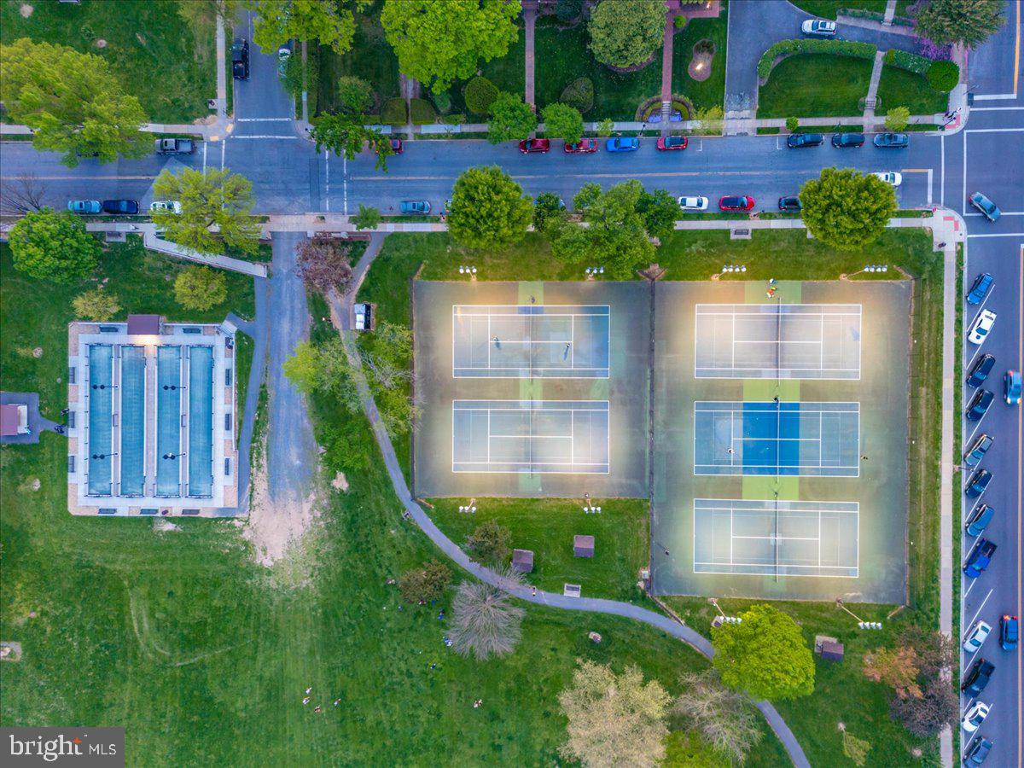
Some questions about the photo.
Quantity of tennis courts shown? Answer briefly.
5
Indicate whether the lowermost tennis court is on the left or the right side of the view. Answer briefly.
right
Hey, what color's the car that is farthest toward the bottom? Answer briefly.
blue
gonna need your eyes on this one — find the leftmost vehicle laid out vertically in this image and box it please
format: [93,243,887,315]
[231,37,248,79]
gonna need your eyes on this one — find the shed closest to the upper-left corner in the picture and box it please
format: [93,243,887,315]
[127,315,174,335]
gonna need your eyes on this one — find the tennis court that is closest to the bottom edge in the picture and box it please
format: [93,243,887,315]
[656,488,908,605]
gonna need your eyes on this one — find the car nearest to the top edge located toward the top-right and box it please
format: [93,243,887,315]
[804,16,840,34]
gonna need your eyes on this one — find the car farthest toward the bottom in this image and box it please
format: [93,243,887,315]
[964,740,992,768]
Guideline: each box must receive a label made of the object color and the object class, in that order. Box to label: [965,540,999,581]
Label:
blue truck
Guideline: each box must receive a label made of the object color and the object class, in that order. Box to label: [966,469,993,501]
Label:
blue car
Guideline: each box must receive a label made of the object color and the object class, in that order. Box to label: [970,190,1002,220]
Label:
blue car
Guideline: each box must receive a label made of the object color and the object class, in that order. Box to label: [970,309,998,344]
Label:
white car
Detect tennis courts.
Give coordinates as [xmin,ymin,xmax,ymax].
[656,488,908,605]
[415,281,651,390]
[656,390,910,488]
[415,390,651,499]
[657,279,911,390]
